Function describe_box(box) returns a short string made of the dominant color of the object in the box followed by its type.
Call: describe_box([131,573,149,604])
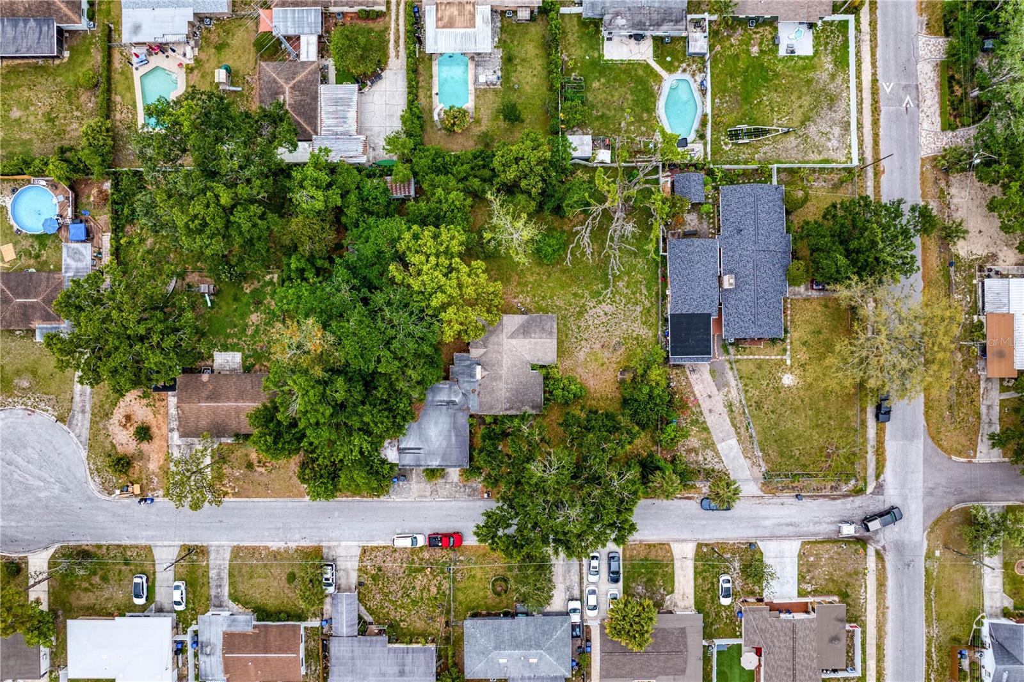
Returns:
white car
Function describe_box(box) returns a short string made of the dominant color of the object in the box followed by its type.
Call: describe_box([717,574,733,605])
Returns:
white car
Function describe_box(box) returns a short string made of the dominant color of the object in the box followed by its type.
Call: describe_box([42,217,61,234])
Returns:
blue umbrella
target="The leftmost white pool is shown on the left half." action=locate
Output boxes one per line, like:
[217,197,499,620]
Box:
[132,45,193,132]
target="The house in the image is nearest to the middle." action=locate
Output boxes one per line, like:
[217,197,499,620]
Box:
[450,304,556,413]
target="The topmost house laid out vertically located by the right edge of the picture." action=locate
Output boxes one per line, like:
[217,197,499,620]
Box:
[975,266,1024,378]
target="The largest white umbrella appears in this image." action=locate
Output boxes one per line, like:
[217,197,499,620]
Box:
[741,653,758,670]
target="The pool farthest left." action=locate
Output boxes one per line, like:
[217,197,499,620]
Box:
[8,184,58,234]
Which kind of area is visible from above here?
residential area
